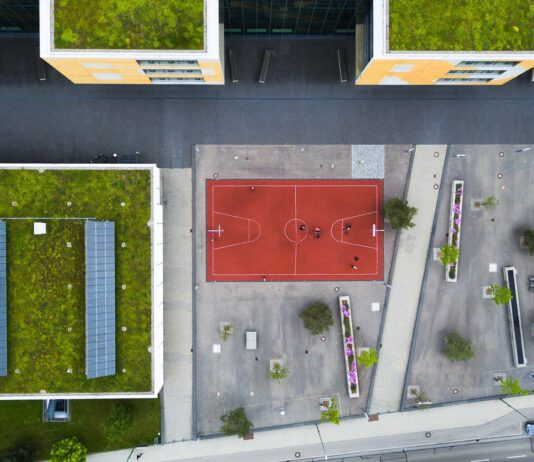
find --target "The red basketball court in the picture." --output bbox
[205,178,385,282]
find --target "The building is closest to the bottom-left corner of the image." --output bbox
[0,164,164,399]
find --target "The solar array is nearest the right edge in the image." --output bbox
[84,221,116,379]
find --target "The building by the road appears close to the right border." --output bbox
[356,0,534,84]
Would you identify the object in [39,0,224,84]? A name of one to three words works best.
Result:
building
